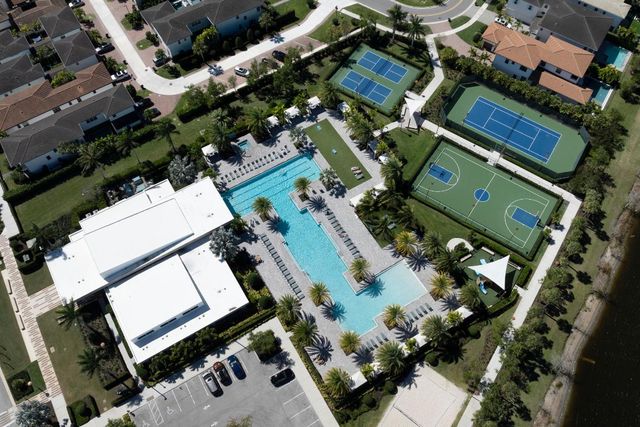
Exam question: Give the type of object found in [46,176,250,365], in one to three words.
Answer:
building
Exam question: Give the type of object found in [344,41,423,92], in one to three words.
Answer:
sports court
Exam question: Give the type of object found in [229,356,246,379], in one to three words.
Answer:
car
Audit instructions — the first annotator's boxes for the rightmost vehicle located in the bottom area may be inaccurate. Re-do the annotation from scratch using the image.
[272,368,295,385]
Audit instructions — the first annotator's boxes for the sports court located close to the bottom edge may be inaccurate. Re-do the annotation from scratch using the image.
[378,361,469,427]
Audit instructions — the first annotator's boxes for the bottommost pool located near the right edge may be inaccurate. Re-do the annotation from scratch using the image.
[589,83,612,106]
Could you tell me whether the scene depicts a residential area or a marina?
residential area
